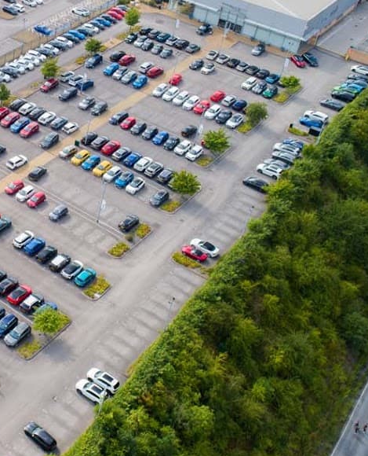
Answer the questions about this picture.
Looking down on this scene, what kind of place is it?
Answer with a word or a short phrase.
parking lot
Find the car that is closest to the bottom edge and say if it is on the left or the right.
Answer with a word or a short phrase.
left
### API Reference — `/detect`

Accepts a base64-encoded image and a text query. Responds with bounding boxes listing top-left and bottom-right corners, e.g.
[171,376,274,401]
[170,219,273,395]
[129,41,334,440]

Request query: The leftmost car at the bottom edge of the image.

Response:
[23,421,59,453]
